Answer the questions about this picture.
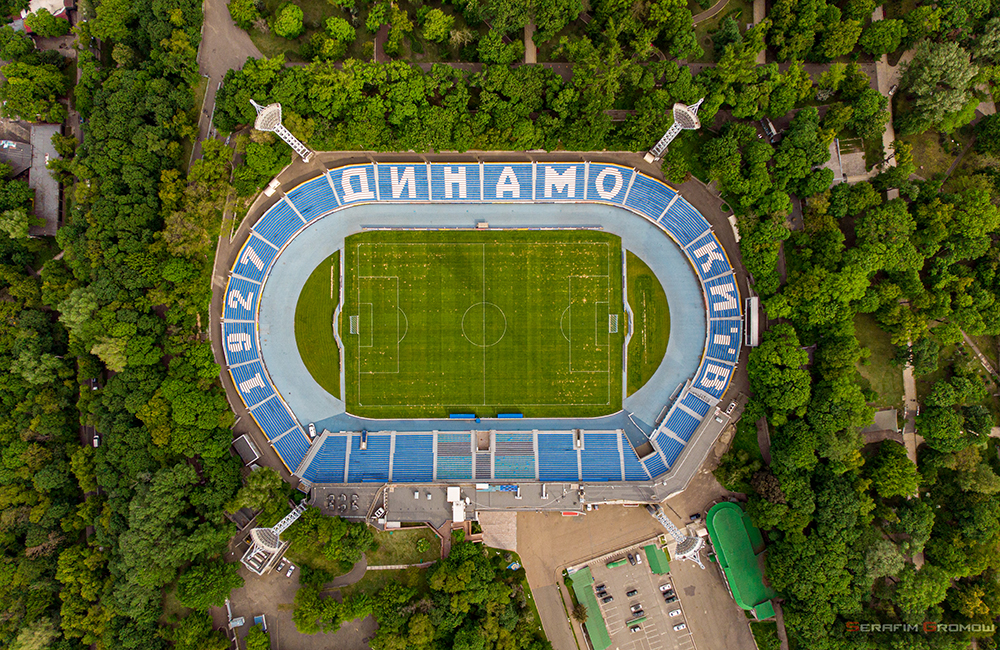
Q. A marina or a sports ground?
sports ground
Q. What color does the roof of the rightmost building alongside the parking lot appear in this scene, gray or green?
green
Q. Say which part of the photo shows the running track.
center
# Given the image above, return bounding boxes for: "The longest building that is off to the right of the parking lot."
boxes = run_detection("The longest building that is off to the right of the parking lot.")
[706,502,776,609]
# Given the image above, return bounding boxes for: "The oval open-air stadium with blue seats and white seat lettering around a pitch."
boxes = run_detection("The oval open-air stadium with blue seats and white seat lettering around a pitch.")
[218,158,745,565]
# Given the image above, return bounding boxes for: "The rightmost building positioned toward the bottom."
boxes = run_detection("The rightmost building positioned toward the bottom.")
[861,409,898,434]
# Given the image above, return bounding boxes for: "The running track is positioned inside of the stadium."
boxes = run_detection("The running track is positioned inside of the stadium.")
[260,204,705,458]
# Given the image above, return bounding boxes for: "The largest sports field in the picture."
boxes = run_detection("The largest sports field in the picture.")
[345,229,623,418]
